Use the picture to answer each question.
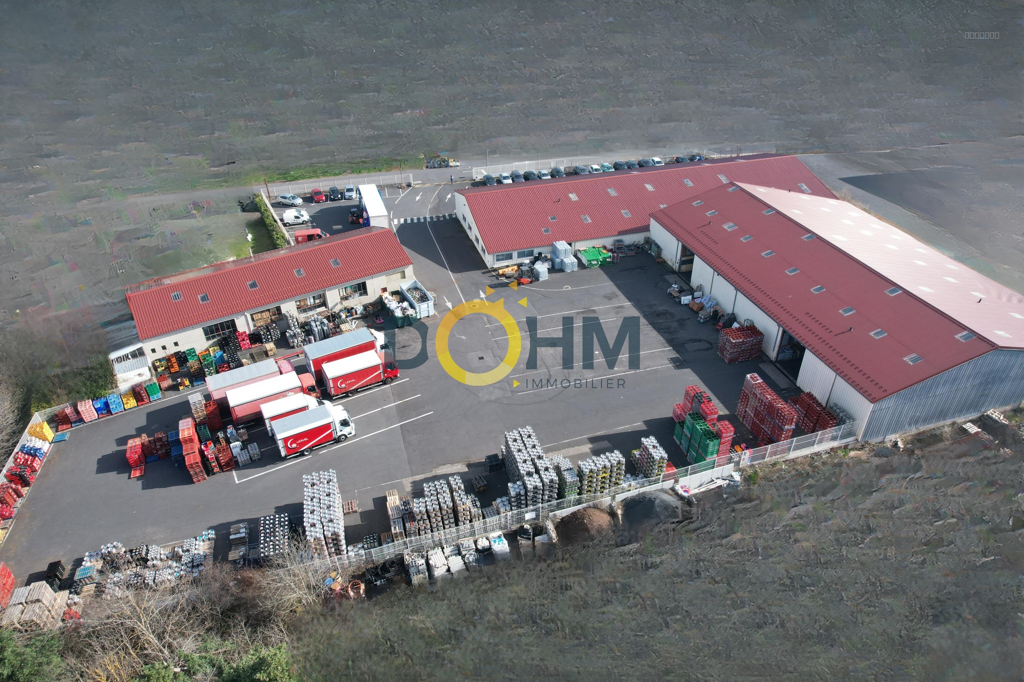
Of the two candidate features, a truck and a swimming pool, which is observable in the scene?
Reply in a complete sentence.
Of the two, only a truck appears.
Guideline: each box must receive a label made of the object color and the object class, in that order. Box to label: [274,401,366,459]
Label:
white truck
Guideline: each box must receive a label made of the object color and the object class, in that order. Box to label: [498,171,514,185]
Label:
white car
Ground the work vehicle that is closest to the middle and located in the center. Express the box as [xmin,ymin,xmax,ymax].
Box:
[516,266,542,288]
